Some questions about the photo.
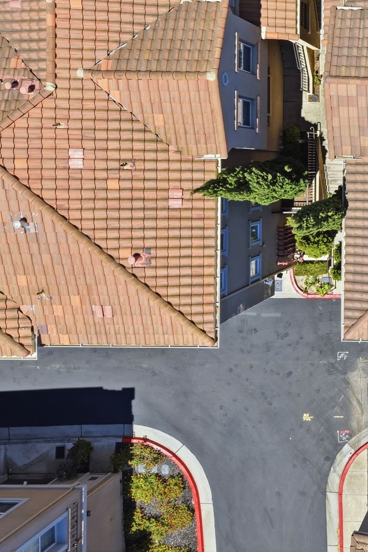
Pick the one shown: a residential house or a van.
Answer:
residential house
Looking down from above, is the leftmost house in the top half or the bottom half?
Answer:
bottom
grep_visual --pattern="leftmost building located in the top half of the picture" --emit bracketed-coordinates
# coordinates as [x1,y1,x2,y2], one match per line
[0,0,320,361]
